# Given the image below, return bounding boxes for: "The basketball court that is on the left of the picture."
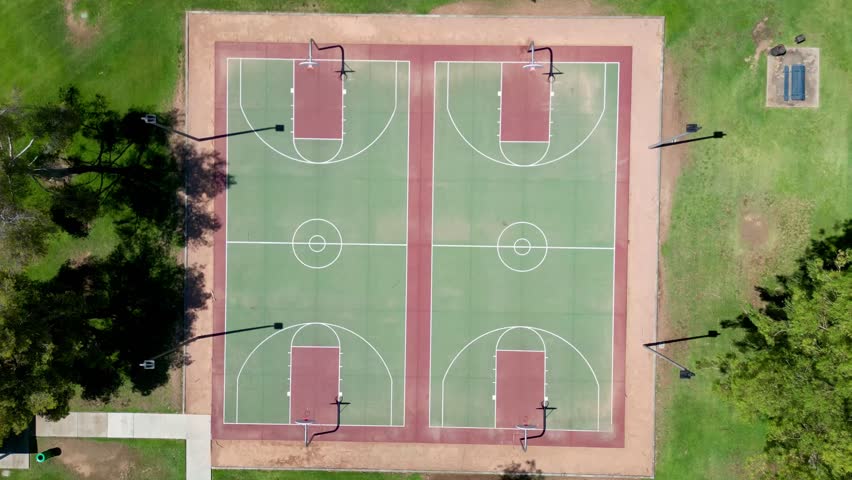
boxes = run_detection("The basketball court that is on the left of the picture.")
[224,58,410,428]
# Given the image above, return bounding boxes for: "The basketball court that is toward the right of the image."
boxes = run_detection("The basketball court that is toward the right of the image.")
[429,61,620,432]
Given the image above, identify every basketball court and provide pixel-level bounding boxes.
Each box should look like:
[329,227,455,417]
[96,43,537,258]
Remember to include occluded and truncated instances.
[429,61,620,432]
[224,58,410,428]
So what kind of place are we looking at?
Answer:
sports ground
